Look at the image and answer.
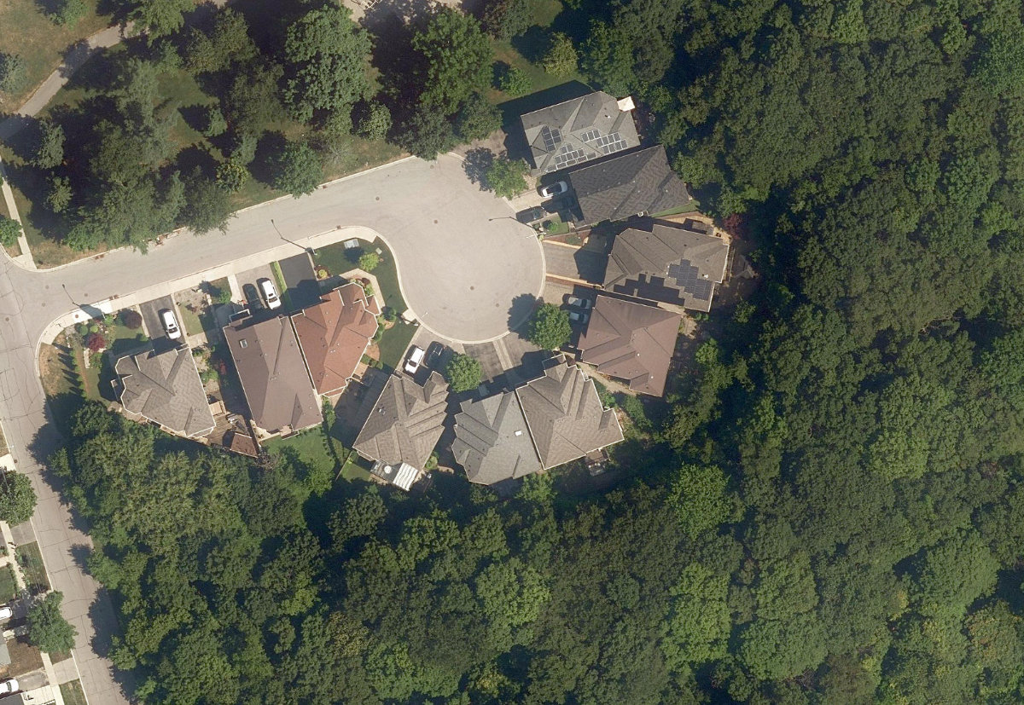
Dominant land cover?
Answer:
trees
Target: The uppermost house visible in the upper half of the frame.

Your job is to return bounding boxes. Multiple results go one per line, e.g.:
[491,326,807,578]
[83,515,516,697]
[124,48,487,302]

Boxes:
[520,91,641,176]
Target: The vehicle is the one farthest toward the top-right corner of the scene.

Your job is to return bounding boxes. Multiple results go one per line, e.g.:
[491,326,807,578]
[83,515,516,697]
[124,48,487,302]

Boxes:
[540,180,569,198]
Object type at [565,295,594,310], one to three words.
car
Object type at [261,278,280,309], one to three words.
car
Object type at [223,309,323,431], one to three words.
house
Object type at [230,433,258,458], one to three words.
shed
